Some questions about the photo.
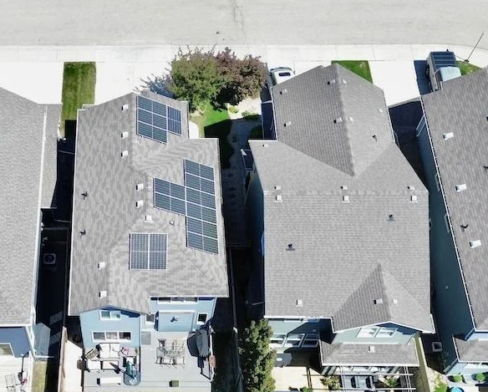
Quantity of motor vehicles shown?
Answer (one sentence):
The number of motor vehicles here is 2.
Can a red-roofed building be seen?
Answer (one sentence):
No, the frame has no red-roofed building in it.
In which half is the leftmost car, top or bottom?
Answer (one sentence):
The top half of the photo is where the leftmost car is.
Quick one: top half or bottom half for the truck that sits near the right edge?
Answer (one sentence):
The truck that sits near the right edge sits in the top half of the picture.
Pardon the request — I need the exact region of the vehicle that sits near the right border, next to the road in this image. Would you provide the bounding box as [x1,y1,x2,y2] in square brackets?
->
[424,50,467,91]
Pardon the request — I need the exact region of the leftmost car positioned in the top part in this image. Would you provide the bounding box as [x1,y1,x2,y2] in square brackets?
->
[272,64,301,89]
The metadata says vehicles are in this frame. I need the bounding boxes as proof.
[272,64,301,89]
[424,50,467,91]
